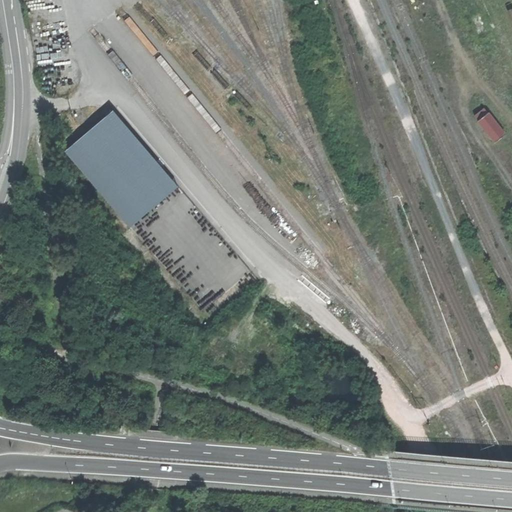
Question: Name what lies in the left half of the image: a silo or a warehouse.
warehouse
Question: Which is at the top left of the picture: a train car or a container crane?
train car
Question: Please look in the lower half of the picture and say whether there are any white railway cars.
No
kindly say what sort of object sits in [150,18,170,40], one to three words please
rail car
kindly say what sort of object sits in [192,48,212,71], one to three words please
rail car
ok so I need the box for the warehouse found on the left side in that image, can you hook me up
[65,110,177,228]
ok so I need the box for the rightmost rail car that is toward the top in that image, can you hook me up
[232,90,253,110]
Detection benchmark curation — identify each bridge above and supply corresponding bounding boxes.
[388,426,512,512]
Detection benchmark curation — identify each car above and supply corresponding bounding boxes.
[371,482,382,488]
[160,466,172,472]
